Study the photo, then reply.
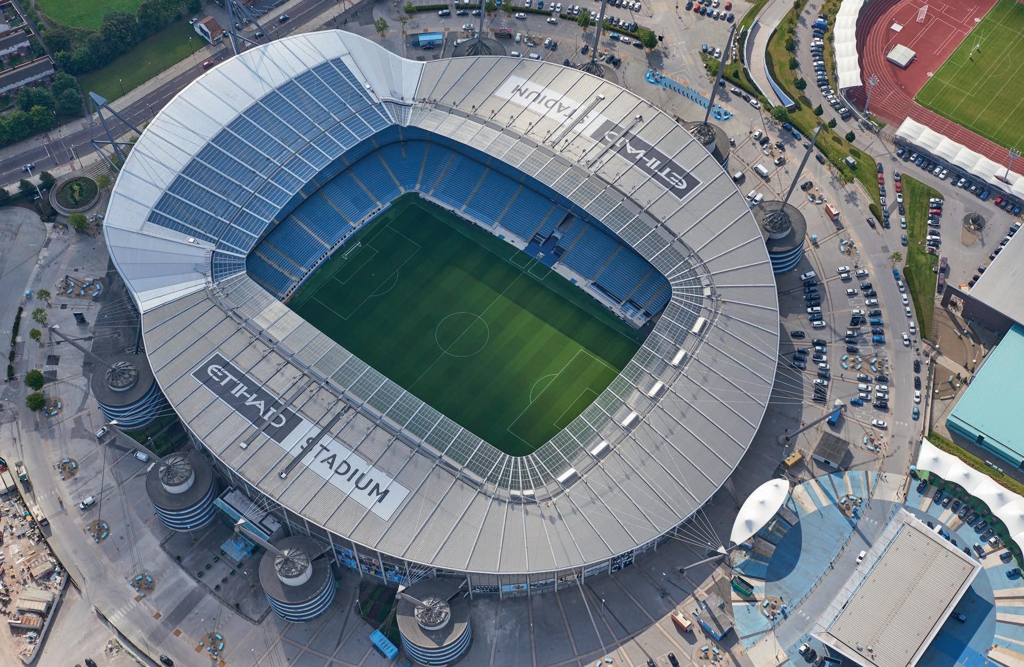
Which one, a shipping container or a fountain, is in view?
shipping container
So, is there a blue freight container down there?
Yes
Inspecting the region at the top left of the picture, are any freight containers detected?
No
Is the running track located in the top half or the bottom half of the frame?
top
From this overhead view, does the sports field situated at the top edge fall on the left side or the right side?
right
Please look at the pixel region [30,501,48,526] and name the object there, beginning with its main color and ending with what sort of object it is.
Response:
white vehicle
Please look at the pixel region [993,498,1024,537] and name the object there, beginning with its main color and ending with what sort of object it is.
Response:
white tent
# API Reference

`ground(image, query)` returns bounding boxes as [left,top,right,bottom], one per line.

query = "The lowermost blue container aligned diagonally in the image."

[369,631,399,662]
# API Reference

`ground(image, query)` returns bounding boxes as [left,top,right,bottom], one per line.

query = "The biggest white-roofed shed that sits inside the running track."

[885,45,917,67]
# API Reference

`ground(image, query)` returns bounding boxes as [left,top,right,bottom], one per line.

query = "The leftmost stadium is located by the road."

[102,30,778,599]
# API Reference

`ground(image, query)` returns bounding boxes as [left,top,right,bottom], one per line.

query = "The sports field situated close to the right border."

[913,0,1024,156]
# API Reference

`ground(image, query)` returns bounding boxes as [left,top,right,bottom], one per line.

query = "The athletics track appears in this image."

[834,0,1024,176]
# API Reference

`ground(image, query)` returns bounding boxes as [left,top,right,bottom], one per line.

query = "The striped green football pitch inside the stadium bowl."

[282,195,649,490]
